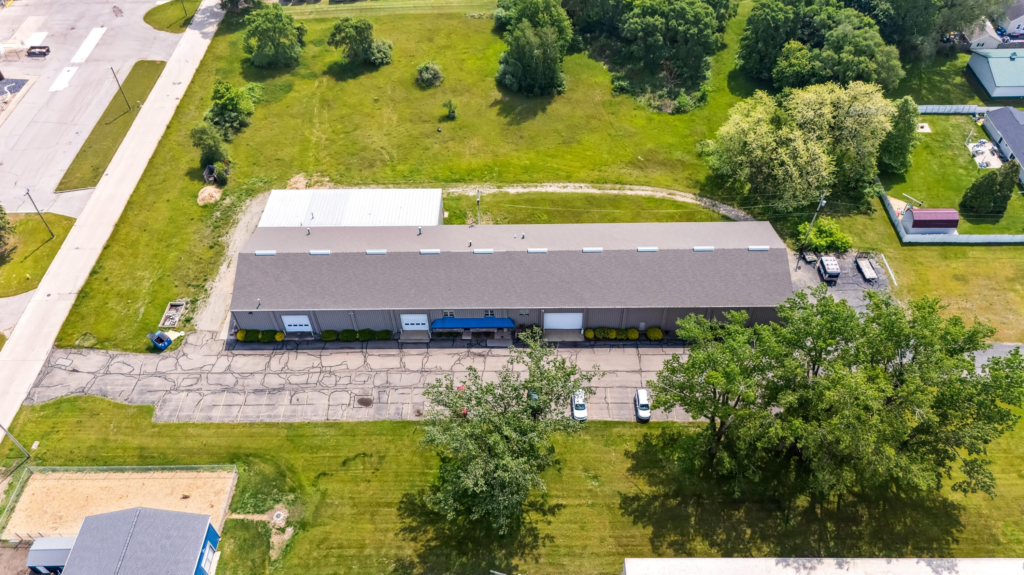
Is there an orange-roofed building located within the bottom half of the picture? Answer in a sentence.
No, I can find no orange-roofed building within the bottom half of the picture.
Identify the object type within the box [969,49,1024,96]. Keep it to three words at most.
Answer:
barn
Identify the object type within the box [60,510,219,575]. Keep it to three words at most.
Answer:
building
